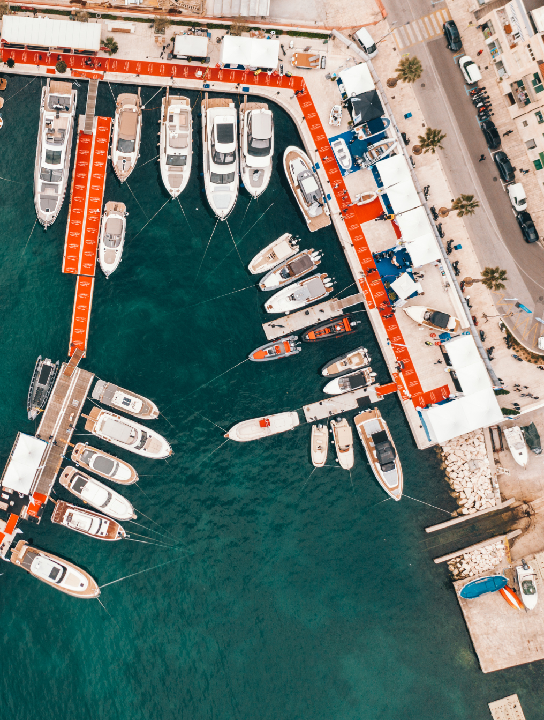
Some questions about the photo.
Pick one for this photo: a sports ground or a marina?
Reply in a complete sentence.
This image shows a marina.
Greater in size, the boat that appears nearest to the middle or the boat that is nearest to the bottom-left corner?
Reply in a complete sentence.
It is the boat that is nearest to the bottom-left corner that is larger, not the boat that appears nearest to the middle.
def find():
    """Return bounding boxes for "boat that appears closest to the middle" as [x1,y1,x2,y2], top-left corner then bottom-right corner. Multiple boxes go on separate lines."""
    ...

[250,339,300,363]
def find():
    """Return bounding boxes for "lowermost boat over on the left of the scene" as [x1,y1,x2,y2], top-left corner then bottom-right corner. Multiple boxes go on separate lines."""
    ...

[12,540,101,601]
